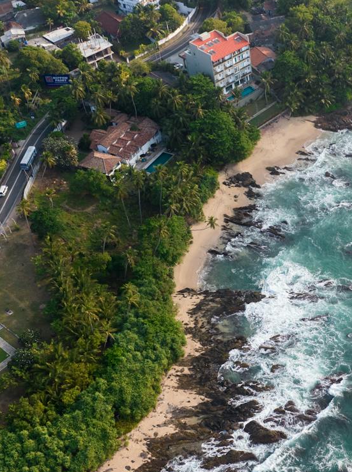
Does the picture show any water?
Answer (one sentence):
Yes, the picture does contain water.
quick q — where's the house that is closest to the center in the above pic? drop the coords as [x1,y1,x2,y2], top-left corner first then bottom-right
[76,116,182,177]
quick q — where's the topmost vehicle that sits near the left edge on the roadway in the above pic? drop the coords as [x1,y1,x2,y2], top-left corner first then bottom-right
[16,143,36,171]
